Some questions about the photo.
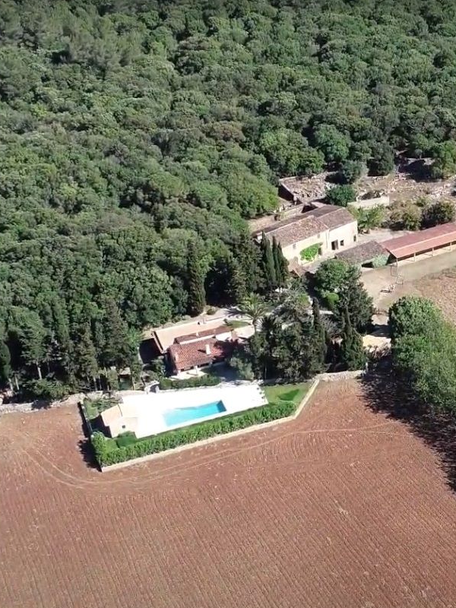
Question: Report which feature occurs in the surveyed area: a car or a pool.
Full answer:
Visible in the photo is a pool.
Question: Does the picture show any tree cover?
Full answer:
Yes, some tree cover is visible.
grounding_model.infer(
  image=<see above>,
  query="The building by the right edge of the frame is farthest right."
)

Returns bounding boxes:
[376,223,456,266]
